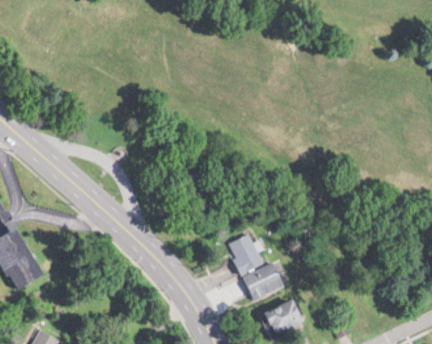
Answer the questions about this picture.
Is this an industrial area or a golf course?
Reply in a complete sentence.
This image shows a golf course.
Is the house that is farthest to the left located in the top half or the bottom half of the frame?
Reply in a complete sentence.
The house that is farthest to the left sits in the bottom half of the picture.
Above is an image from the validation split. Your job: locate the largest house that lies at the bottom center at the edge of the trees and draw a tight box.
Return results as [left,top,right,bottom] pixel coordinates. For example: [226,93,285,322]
[228,236,284,302]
